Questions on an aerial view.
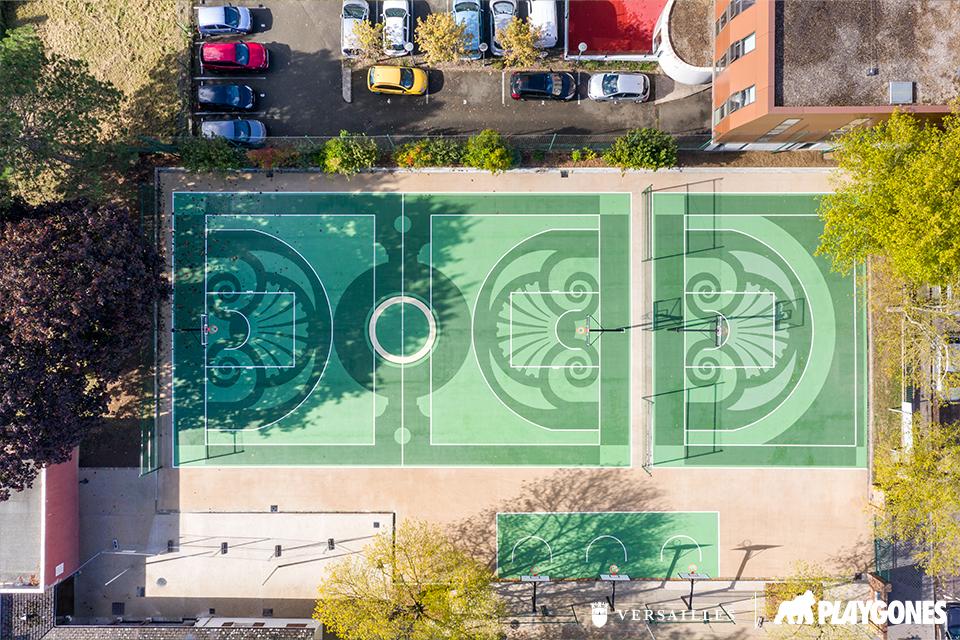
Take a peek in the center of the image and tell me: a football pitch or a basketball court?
basketball court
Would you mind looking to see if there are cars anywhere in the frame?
Yes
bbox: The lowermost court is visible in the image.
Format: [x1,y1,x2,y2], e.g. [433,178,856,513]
[497,513,720,579]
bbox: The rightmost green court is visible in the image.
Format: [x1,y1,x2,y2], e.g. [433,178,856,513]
[652,192,867,468]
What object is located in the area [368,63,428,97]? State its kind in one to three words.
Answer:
car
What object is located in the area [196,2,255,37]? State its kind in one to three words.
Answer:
car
